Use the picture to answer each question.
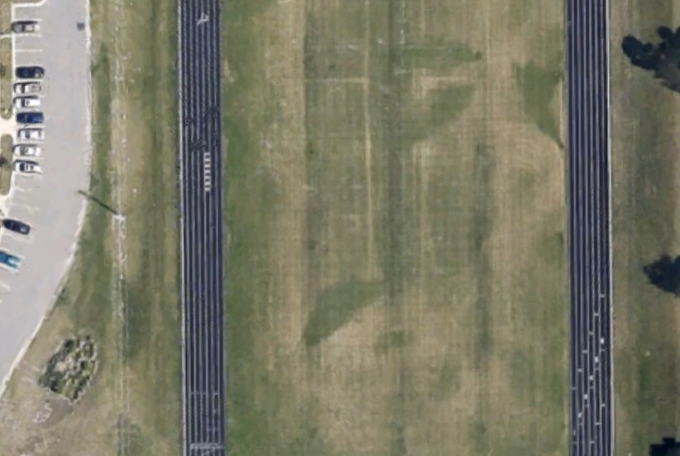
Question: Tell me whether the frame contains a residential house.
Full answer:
No, no residential house is visible in the scene.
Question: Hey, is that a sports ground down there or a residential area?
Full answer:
This looks like a sports ground.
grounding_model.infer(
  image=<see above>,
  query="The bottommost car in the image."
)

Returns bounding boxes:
[0,251,22,267]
